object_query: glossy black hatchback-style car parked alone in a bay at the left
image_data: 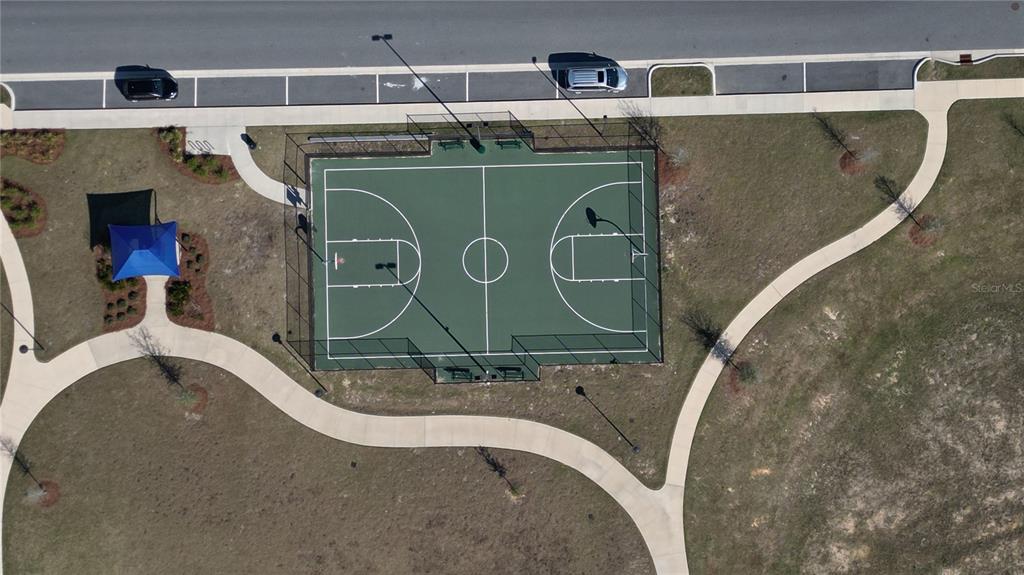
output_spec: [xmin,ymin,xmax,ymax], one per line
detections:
[121,74,179,103]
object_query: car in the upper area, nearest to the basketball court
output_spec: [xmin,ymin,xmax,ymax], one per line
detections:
[564,63,629,93]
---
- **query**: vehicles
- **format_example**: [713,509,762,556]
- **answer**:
[564,63,629,93]
[121,74,179,103]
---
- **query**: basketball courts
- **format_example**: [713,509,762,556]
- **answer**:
[312,137,660,382]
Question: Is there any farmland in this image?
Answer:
No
